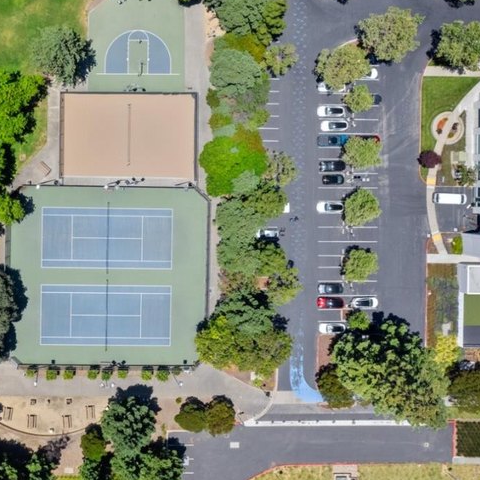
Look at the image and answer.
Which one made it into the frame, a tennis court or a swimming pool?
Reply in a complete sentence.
Visible in the photo is a tennis court.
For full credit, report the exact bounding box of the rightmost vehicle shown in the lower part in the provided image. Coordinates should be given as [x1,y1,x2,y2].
[350,297,378,309]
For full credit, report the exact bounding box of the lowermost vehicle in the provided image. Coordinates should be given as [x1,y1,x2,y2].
[319,322,347,334]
